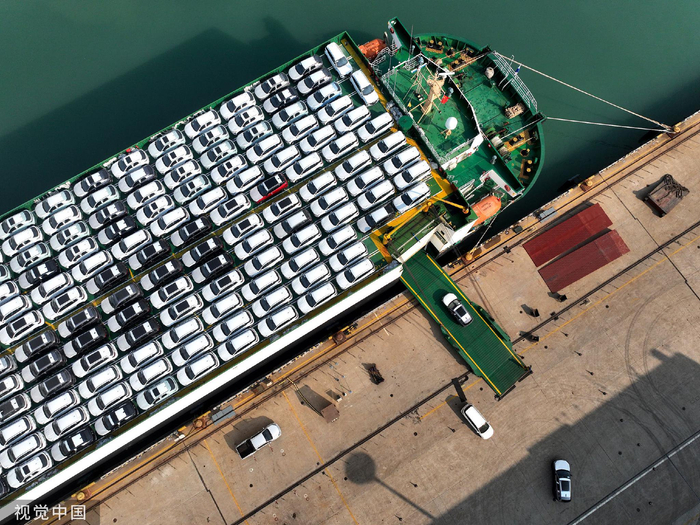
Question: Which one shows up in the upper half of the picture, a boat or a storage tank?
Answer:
boat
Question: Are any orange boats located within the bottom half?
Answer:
No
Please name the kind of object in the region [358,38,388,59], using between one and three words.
boat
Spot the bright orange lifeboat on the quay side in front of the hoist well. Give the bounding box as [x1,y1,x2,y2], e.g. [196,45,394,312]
[468,195,501,222]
